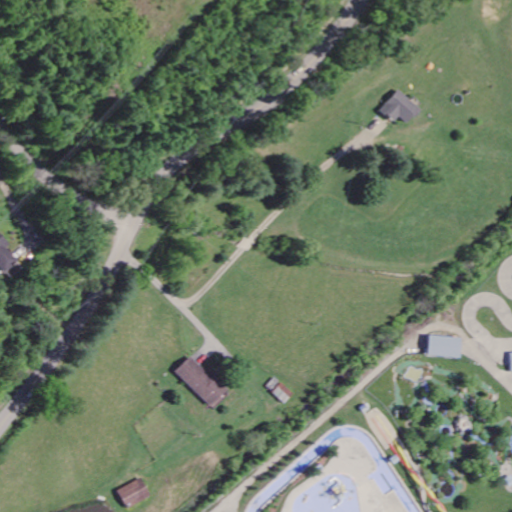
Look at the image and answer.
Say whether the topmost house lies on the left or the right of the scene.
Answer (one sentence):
You can find the topmost house on the right side of the picture.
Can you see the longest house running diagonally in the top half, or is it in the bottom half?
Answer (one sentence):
The longest house running diagonally sits in the bottom half of the picture.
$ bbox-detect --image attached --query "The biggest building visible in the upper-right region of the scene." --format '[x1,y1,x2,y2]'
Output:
[380,85,420,124]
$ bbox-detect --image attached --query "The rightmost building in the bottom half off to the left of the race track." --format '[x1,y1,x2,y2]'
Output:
[428,334,462,358]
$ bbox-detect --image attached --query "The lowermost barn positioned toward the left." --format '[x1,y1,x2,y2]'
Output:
[116,478,149,507]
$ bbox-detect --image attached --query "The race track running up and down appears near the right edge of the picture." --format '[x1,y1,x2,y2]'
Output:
[462,256,512,372]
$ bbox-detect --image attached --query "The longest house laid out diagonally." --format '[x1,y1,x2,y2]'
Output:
[174,358,226,409]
